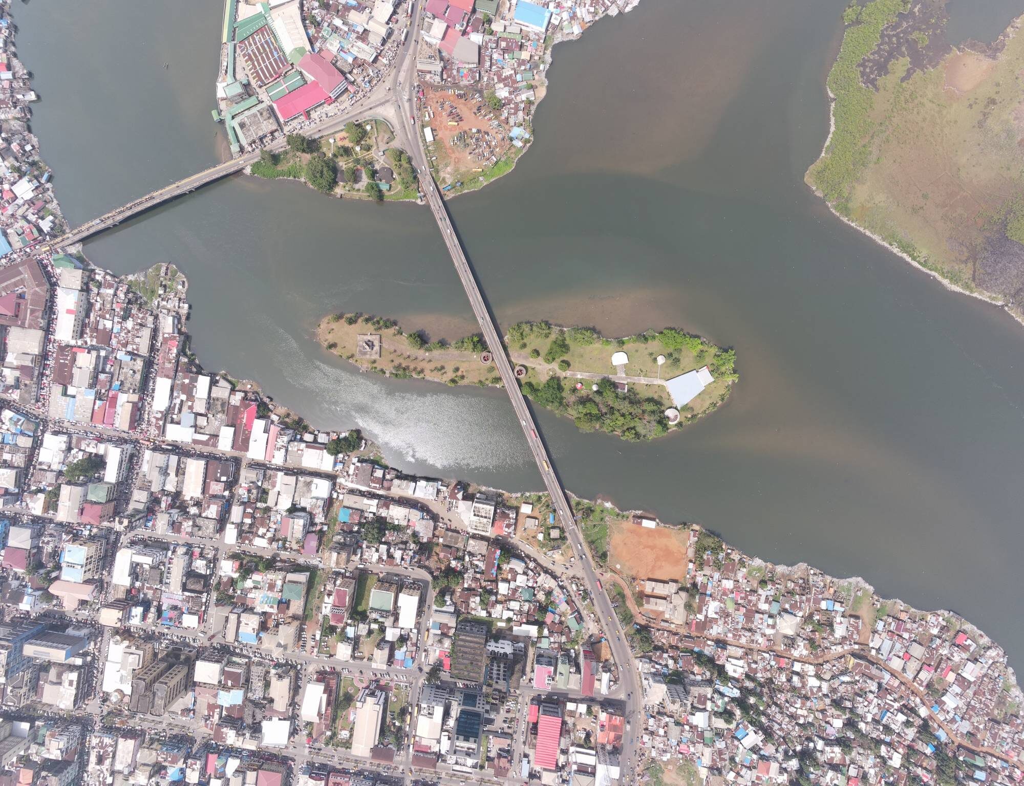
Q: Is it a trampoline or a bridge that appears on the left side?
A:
bridge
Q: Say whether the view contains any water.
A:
Yes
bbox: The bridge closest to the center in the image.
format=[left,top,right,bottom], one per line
[417,166,563,498]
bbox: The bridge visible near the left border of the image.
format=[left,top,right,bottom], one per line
[40,155,245,257]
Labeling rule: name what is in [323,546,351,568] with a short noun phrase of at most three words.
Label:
building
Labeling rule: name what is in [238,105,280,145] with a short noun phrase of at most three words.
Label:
house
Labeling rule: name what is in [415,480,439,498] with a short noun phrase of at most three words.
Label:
building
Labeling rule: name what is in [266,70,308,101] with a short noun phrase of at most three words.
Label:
house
